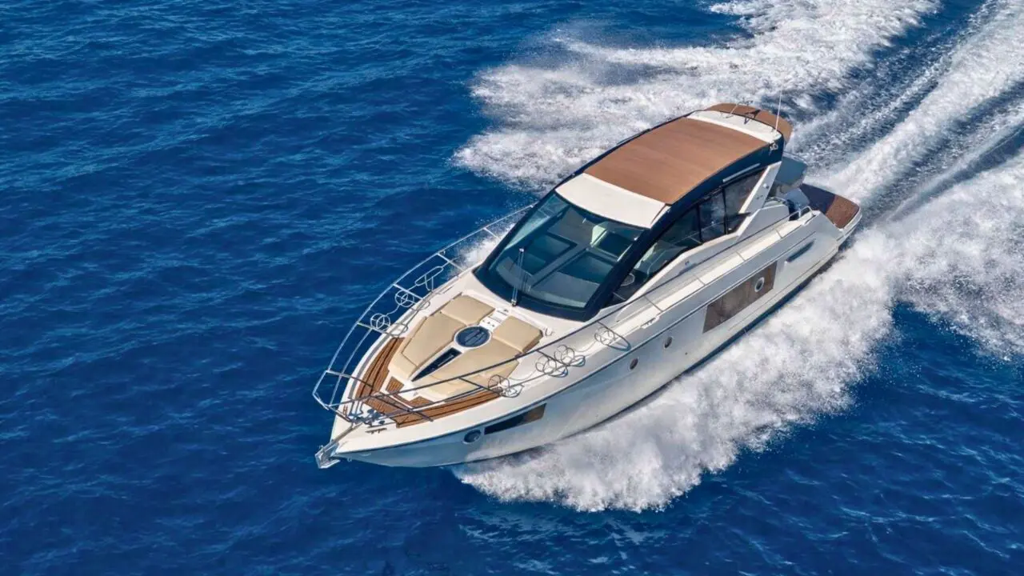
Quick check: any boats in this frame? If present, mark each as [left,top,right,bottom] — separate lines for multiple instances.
[304,75,865,470]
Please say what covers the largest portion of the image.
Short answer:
water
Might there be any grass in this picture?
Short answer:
No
